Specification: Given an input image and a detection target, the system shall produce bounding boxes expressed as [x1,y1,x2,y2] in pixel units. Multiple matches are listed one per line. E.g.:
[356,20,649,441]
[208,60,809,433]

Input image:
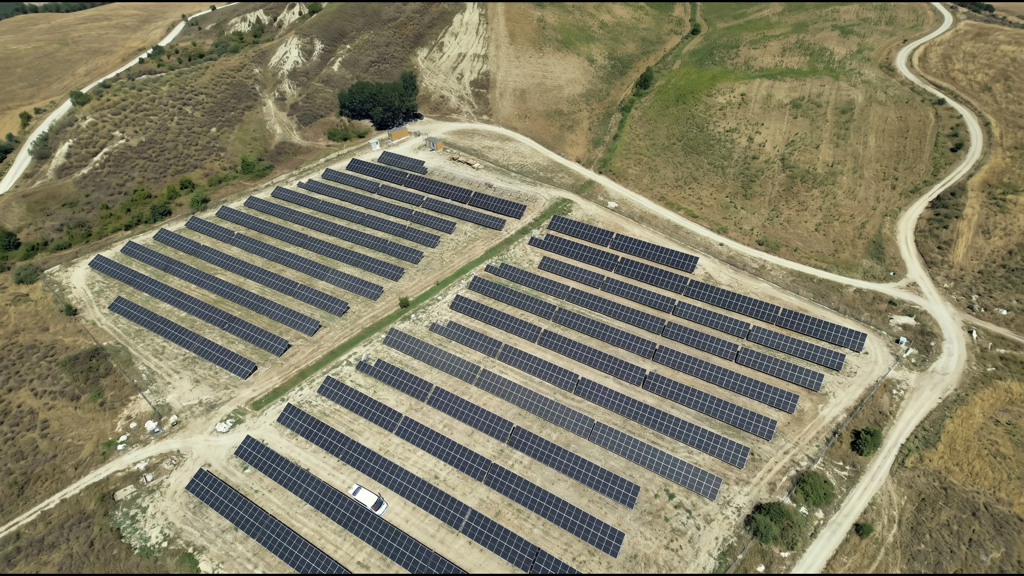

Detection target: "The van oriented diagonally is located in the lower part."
[347,480,390,514]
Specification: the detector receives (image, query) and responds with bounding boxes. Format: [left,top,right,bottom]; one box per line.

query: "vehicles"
[347,480,390,514]
[413,111,425,117]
